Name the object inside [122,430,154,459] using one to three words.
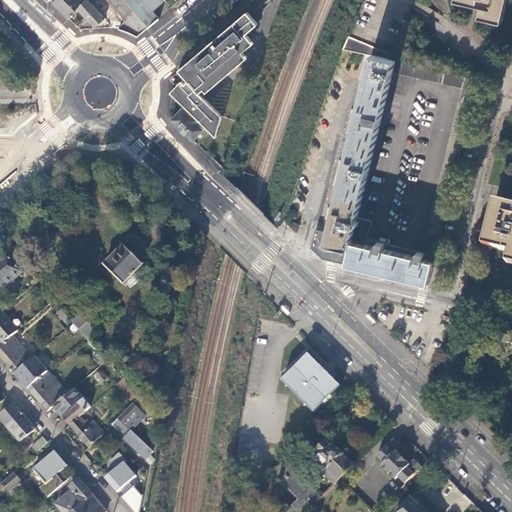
shed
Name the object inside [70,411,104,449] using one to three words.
house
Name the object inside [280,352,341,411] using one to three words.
building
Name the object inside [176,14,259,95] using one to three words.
building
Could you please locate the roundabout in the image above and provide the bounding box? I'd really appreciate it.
[36,34,176,154]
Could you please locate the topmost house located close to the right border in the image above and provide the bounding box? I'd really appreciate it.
[451,0,505,28]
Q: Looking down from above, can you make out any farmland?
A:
No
